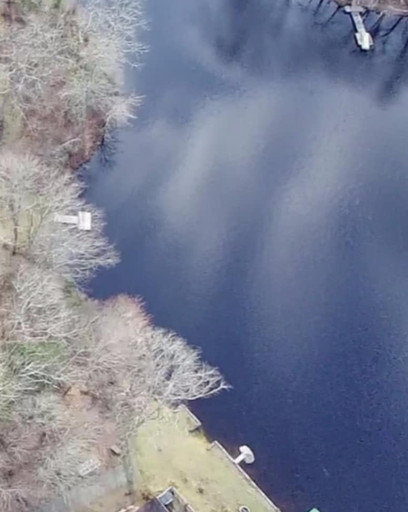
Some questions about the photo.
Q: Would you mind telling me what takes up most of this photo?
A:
water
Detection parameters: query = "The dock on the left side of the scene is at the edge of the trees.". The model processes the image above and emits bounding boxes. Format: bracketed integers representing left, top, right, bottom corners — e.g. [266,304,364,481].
[55,212,93,232]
